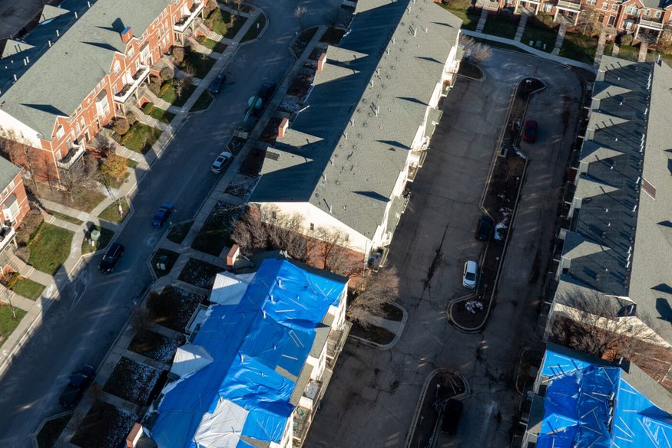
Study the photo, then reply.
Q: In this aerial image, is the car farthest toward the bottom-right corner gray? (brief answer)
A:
No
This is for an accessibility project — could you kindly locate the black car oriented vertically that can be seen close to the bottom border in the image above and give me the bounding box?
[440,394,464,436]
